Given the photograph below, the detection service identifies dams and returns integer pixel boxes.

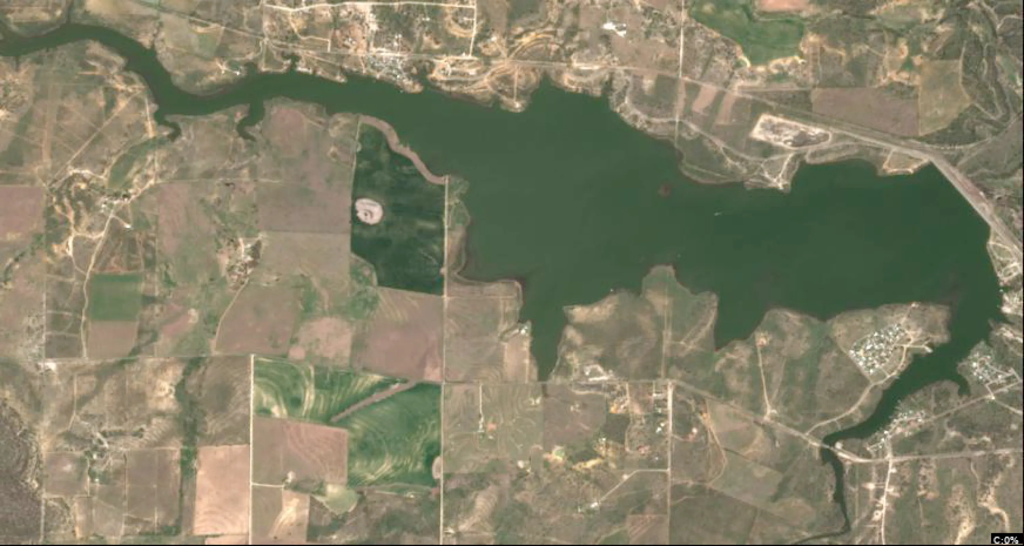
[926,148,1024,257]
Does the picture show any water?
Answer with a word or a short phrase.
Yes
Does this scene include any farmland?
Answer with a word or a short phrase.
Yes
